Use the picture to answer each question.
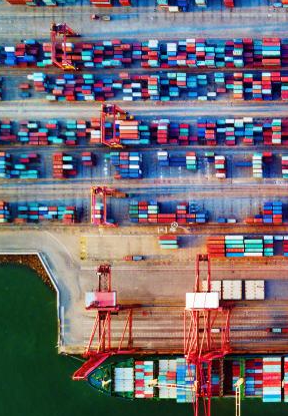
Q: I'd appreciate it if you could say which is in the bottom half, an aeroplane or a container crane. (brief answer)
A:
container crane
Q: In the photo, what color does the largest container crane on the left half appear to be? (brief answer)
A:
red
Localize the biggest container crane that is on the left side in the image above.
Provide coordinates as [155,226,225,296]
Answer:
[70,265,151,386]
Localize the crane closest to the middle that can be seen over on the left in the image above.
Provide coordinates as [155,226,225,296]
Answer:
[91,188,121,231]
